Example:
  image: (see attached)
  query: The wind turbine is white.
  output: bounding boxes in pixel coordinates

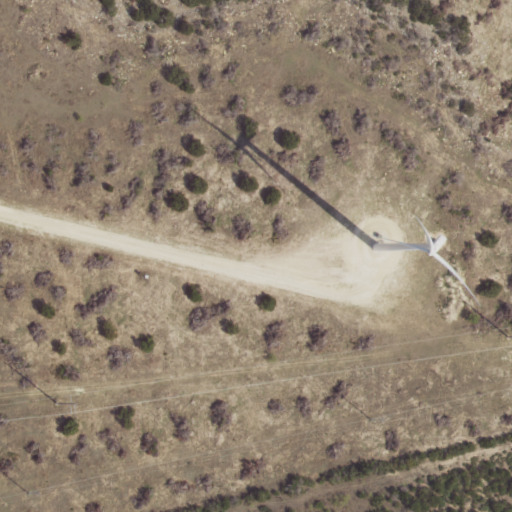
[374,216,478,304]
